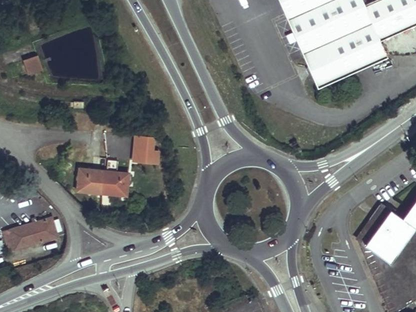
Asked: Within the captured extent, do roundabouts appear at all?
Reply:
Yes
